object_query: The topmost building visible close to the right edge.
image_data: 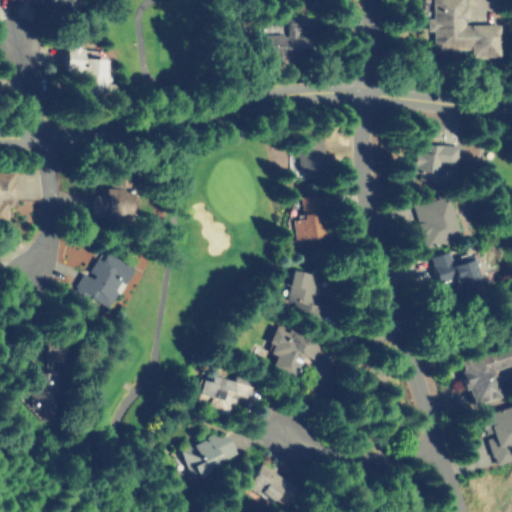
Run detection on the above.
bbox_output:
[429,0,504,58]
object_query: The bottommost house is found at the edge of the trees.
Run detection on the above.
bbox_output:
[248,459,290,503]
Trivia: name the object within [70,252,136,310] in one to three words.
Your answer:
house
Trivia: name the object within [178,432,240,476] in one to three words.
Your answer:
house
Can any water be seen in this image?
No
